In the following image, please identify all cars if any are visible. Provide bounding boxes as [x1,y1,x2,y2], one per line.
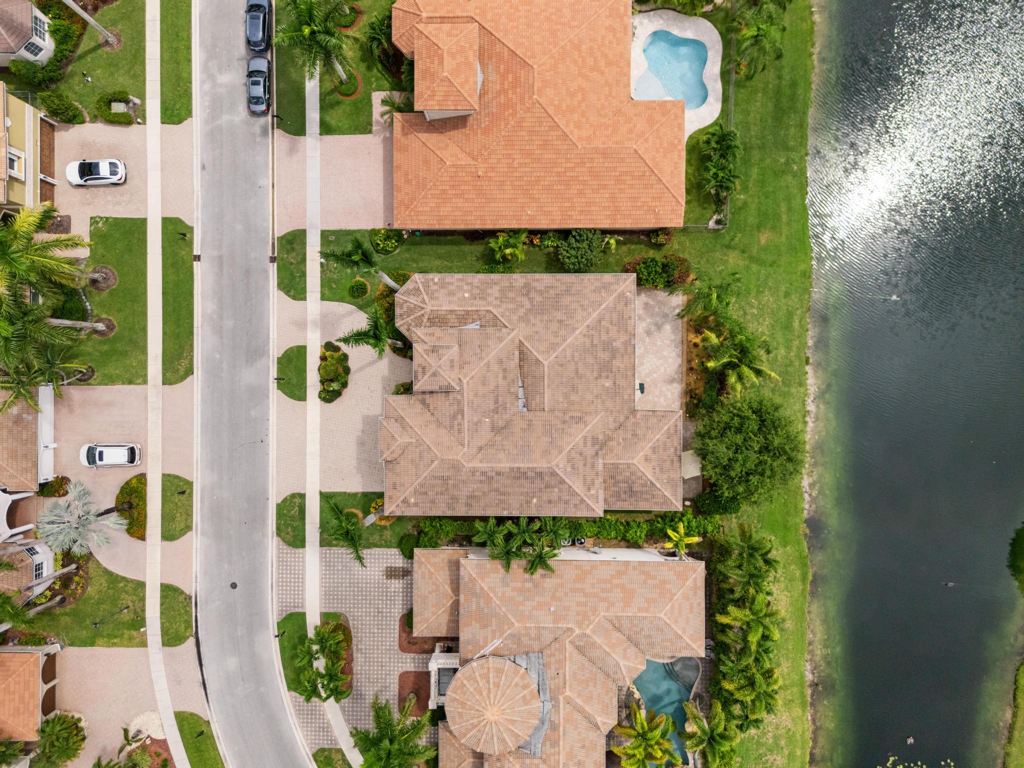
[243,0,274,58]
[80,441,142,470]
[244,58,273,118]
[66,157,126,187]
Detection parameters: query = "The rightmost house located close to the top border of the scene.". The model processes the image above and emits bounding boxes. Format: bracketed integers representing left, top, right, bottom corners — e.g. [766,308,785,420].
[390,0,687,230]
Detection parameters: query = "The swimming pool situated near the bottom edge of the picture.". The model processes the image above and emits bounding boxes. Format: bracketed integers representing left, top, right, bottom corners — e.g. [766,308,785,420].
[631,656,702,768]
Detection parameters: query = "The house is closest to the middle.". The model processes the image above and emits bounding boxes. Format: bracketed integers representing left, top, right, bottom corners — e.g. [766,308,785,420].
[377,271,684,518]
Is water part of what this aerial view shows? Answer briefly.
Yes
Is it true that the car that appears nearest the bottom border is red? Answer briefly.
No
